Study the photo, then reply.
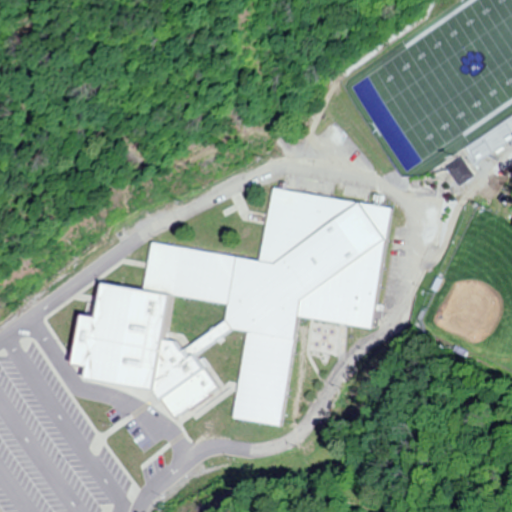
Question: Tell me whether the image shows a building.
Yes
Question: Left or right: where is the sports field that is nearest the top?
right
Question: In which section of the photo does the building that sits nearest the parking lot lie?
center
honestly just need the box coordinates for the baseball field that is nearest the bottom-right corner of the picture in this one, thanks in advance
[426,207,512,374]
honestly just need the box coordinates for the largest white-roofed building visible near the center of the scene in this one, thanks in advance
[71,186,392,426]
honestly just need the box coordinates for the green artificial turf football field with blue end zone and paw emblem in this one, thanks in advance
[342,0,512,182]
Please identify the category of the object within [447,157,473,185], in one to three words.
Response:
building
